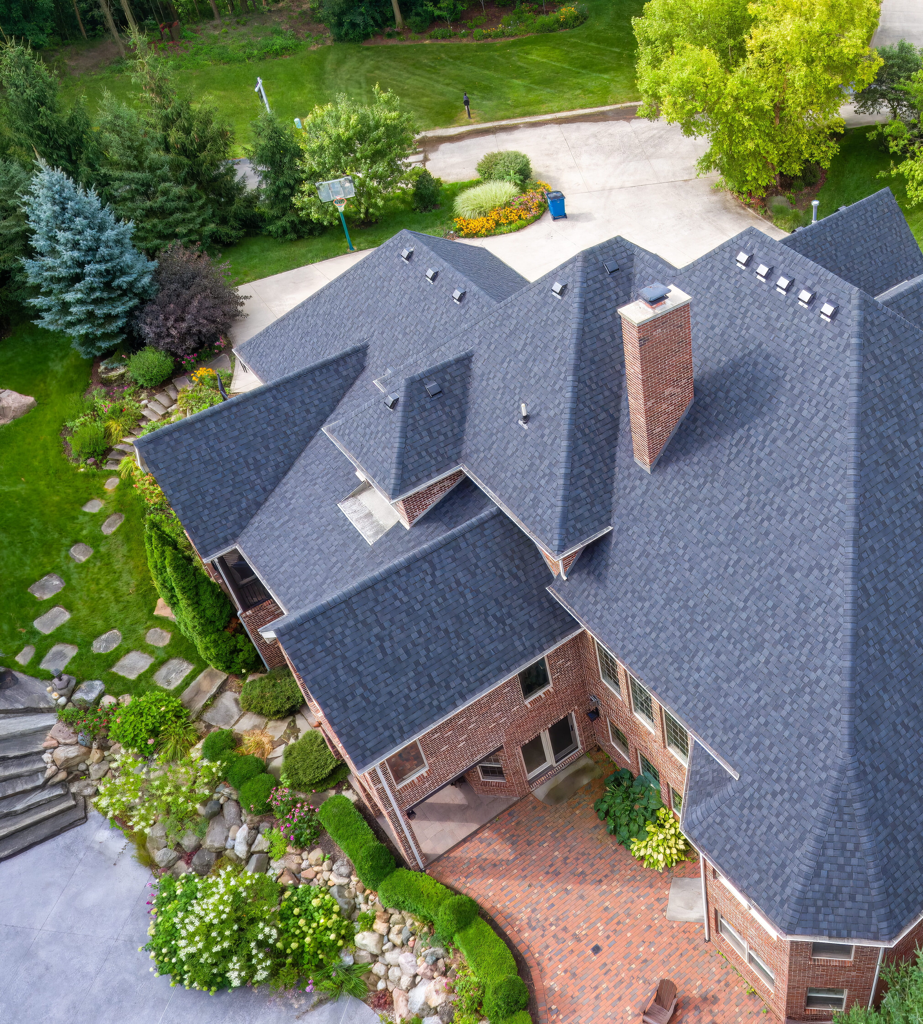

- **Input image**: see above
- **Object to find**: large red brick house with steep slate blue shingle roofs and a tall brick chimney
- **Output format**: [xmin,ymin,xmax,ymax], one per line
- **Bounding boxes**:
[133,174,923,1024]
